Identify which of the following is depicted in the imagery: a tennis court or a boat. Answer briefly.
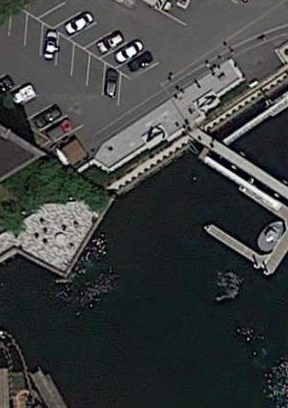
boat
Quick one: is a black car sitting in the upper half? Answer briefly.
Yes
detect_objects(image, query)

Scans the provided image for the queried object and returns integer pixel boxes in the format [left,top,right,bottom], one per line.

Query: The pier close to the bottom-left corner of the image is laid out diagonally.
[30,368,68,408]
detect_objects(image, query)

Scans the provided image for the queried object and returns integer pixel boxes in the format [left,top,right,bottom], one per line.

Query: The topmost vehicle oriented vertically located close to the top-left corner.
[42,29,57,59]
